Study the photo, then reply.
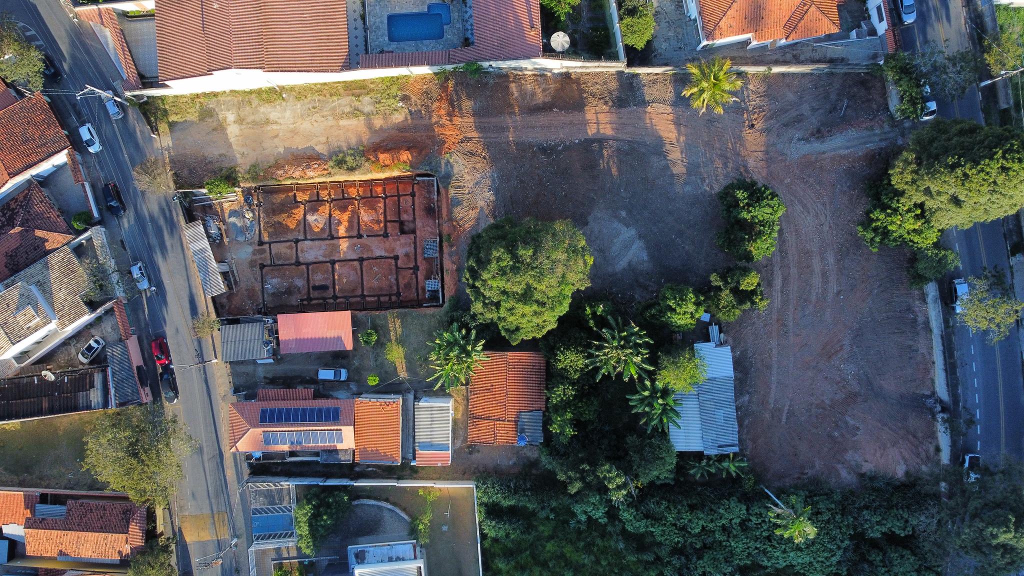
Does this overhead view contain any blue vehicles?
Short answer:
Yes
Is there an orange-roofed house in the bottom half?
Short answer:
Yes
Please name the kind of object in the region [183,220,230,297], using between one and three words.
shed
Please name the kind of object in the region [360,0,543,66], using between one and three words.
building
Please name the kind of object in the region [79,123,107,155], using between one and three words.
car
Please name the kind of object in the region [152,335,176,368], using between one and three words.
car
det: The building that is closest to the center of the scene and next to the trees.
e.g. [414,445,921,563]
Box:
[468,351,545,445]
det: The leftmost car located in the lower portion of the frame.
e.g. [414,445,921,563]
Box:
[81,334,108,365]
